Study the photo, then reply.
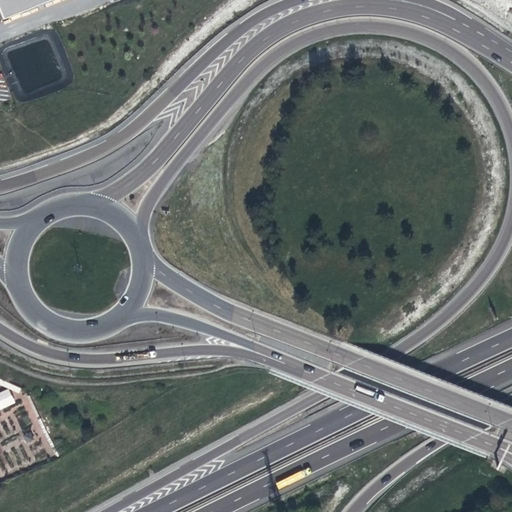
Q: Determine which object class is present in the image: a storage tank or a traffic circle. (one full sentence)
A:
Of the two, only a traffic circle appears.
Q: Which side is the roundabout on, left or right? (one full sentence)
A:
You can find the roundabout on the left side of the picture.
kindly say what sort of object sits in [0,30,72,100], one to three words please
pond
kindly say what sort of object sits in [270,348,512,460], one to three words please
bridge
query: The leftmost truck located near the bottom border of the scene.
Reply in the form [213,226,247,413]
[278,467,312,490]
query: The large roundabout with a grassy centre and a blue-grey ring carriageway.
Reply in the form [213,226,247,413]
[3,190,156,344]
